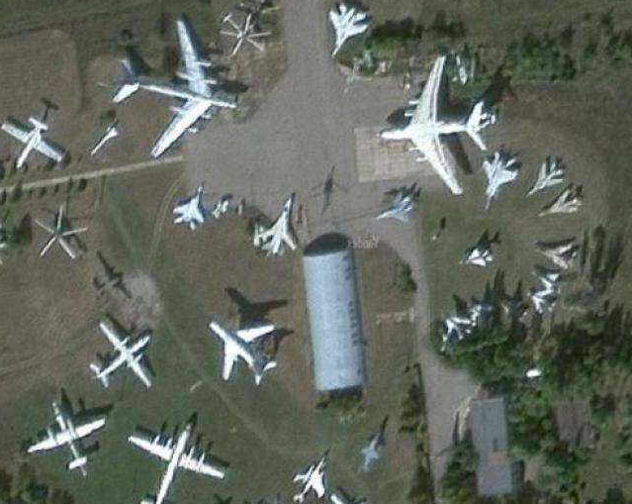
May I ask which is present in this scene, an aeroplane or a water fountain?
aeroplane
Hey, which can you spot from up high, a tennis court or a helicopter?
helicopter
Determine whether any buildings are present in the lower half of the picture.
Yes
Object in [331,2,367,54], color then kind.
white airplane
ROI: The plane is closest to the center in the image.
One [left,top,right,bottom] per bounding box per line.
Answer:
[256,195,295,257]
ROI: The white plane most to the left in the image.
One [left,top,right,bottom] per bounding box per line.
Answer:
[2,114,60,169]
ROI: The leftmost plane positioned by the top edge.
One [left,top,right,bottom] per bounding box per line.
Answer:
[113,22,236,159]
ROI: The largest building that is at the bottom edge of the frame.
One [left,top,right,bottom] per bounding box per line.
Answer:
[470,397,533,495]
